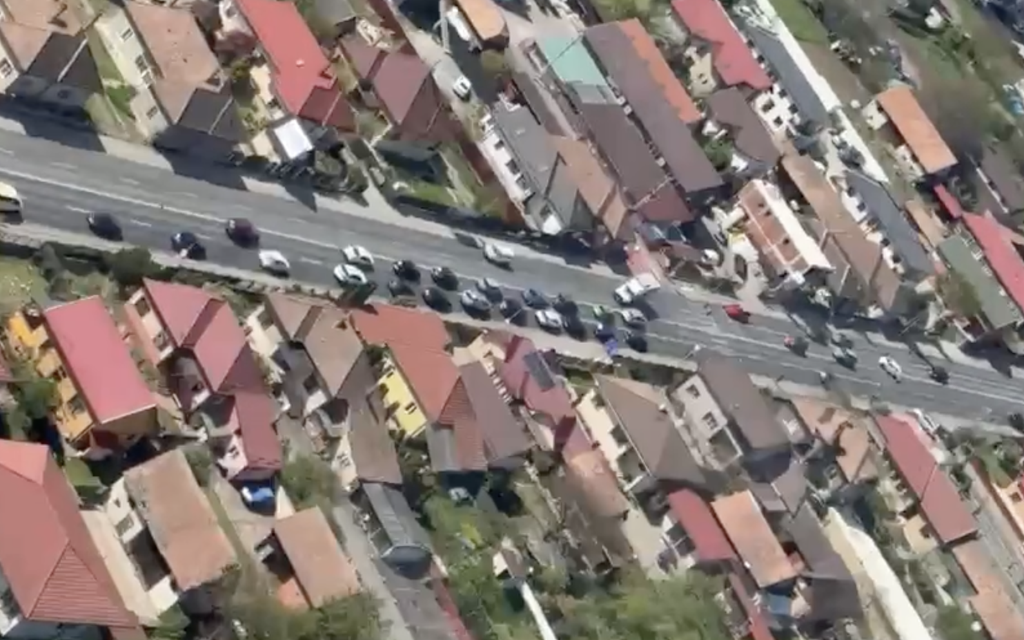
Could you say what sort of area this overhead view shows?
residential area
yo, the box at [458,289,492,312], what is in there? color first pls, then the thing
gray car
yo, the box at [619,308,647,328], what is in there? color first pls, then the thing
gray car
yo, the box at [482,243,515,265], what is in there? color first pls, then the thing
white car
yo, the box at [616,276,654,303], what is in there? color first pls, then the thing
white truck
